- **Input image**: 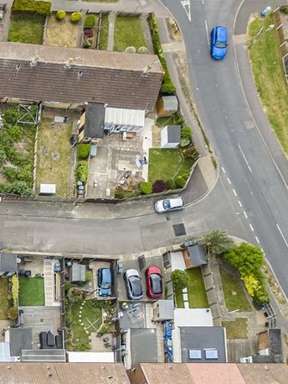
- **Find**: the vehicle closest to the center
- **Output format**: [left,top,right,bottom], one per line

[151,197,185,214]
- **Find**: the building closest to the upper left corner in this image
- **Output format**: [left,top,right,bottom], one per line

[0,39,53,107]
